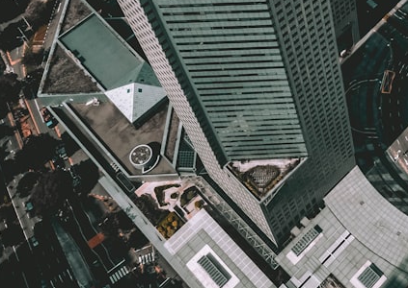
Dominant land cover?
buildings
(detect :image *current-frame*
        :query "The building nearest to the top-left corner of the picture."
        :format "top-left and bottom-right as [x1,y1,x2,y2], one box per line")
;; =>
[37,0,202,198]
